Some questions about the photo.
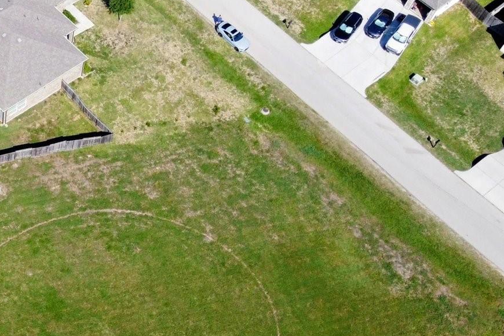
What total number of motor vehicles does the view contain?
4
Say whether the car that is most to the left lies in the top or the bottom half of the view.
top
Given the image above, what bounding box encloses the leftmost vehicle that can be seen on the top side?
[214,17,251,52]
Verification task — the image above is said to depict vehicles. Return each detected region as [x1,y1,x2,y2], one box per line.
[364,6,396,39]
[331,8,366,44]
[214,17,251,52]
[384,13,424,54]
